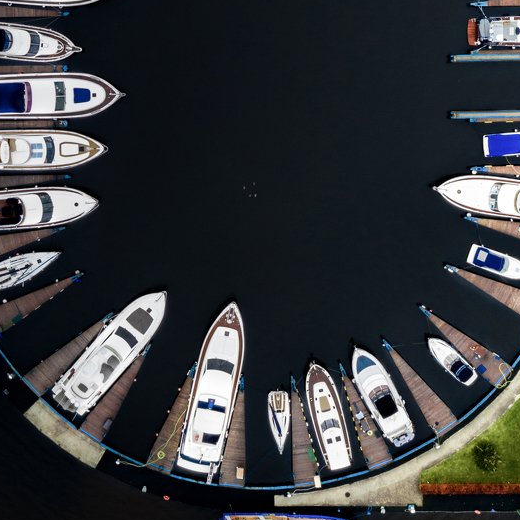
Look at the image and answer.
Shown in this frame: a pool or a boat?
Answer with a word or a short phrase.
boat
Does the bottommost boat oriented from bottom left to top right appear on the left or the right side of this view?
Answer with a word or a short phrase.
left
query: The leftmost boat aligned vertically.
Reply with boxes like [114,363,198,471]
[178,299,243,484]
